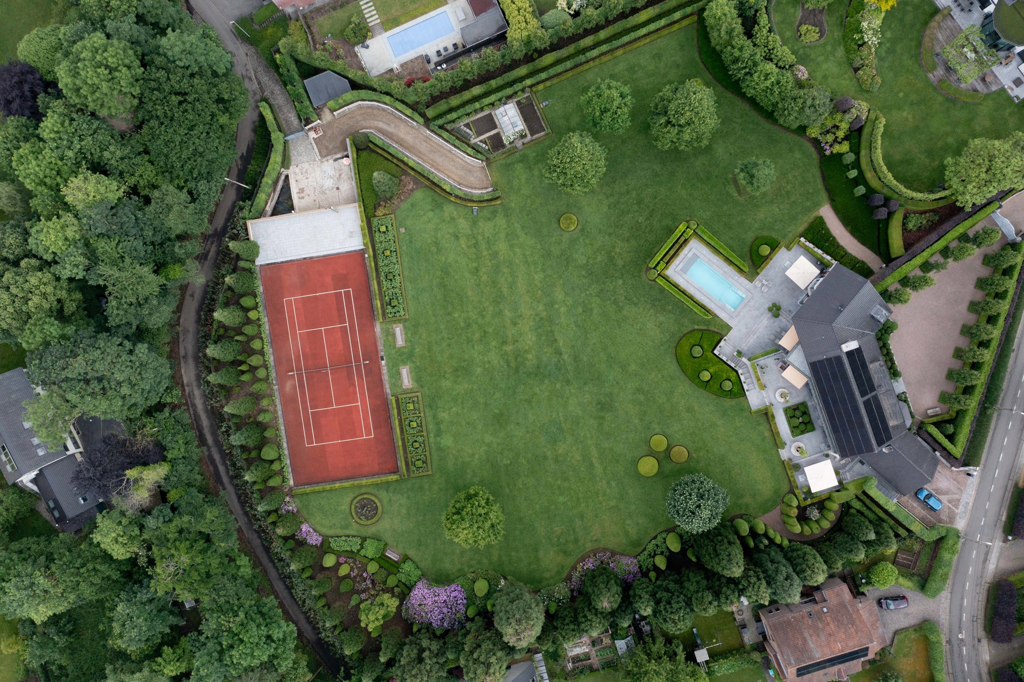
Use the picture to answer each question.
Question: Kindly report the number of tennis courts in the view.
1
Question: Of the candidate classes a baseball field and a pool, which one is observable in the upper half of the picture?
pool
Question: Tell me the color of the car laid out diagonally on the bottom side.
blue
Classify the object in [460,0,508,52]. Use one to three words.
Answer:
building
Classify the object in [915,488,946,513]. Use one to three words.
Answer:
car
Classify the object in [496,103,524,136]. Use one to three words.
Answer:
greenhouse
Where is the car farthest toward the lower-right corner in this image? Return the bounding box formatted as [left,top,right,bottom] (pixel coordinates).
[878,595,909,611]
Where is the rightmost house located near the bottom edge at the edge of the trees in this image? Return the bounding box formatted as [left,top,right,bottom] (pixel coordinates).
[756,580,888,682]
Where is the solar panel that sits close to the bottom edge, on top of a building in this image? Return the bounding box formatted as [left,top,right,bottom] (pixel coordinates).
[797,648,869,673]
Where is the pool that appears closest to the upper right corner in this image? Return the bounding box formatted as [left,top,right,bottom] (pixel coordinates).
[672,245,755,321]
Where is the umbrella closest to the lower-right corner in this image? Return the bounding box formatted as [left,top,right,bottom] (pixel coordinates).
[798,459,838,493]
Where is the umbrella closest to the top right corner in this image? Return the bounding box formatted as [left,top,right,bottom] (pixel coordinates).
[783,255,820,290]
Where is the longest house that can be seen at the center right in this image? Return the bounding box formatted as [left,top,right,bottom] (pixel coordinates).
[779,263,940,500]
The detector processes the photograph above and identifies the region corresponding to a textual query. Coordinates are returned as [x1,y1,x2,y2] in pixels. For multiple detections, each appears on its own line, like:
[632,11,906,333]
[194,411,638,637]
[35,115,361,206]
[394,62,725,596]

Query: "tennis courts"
[257,249,402,489]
